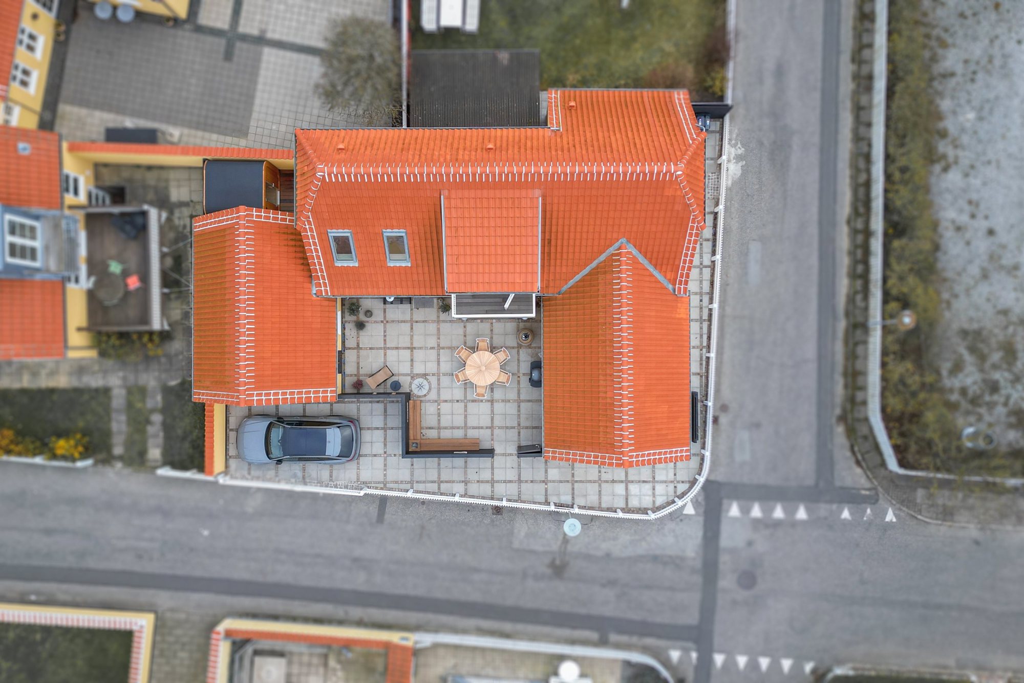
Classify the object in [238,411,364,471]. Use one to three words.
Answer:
car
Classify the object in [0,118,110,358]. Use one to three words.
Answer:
house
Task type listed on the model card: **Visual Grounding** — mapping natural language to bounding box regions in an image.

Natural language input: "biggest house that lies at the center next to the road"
[291,87,711,471]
